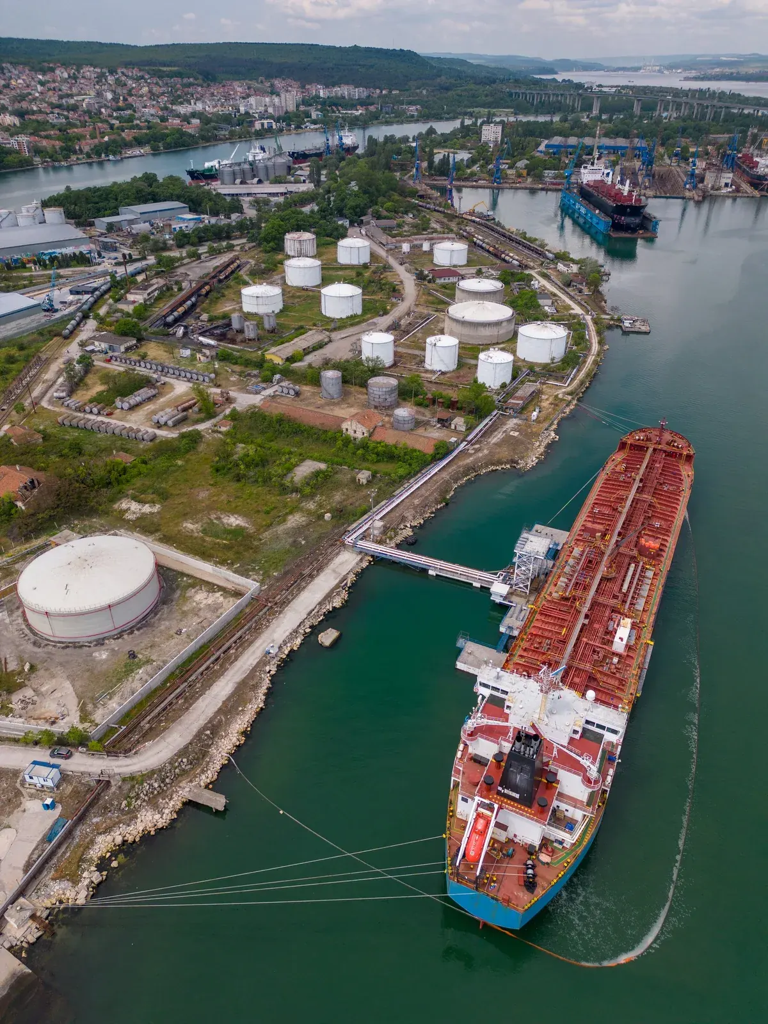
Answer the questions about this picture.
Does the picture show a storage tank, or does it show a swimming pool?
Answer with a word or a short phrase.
storage tank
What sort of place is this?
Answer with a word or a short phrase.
port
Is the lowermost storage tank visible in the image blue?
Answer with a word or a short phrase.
No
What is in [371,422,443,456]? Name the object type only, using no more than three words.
shed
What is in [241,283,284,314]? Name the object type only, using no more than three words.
storage tank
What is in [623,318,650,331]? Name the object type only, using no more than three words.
ship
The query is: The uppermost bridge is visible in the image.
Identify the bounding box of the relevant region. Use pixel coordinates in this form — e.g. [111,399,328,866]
[493,90,768,134]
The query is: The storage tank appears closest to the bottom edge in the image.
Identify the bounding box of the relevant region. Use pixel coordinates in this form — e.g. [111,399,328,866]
[16,529,170,645]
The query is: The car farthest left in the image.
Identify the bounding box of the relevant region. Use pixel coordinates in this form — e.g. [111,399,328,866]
[47,747,73,759]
